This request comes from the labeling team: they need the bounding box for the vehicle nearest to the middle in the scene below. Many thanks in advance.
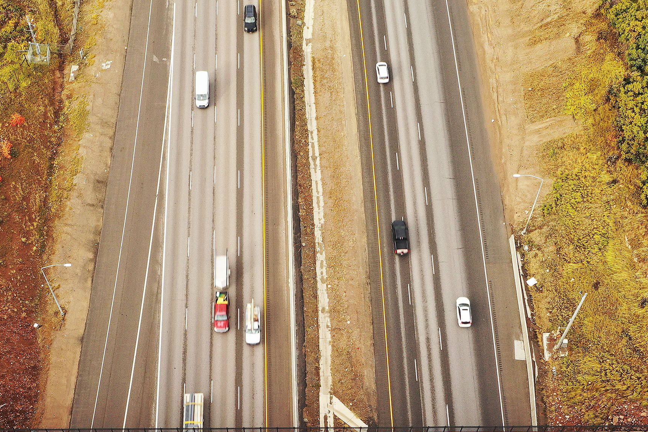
[392,220,409,259]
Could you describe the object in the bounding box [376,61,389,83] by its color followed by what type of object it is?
white vehicle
